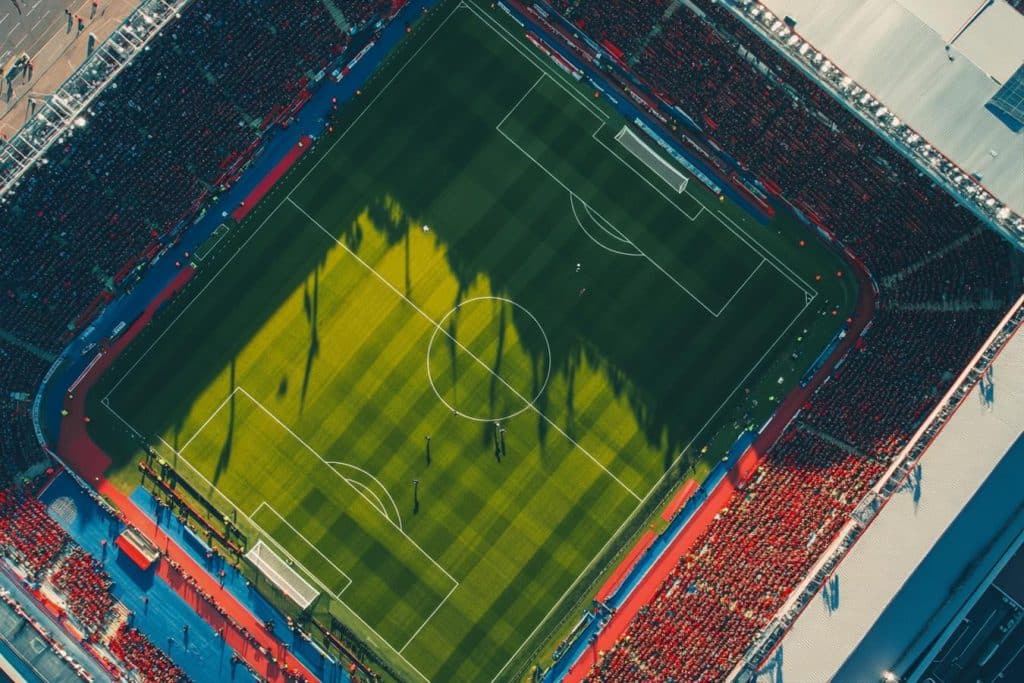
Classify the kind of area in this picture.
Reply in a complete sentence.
This image shows a sports ground.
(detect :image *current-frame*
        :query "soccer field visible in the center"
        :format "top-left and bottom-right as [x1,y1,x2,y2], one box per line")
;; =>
[101,0,822,683]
